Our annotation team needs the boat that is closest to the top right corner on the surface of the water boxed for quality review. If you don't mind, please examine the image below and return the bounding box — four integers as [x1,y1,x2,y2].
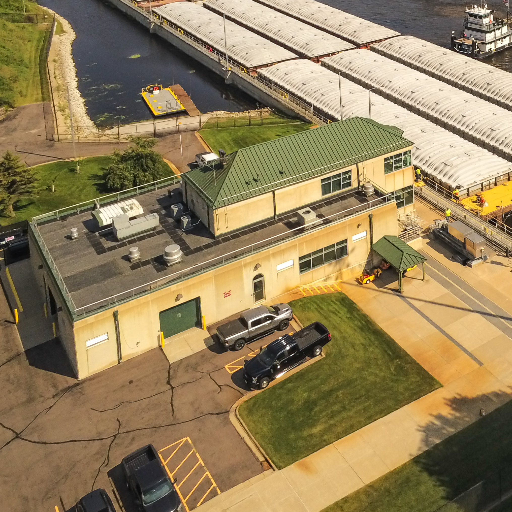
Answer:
[445,0,512,57]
